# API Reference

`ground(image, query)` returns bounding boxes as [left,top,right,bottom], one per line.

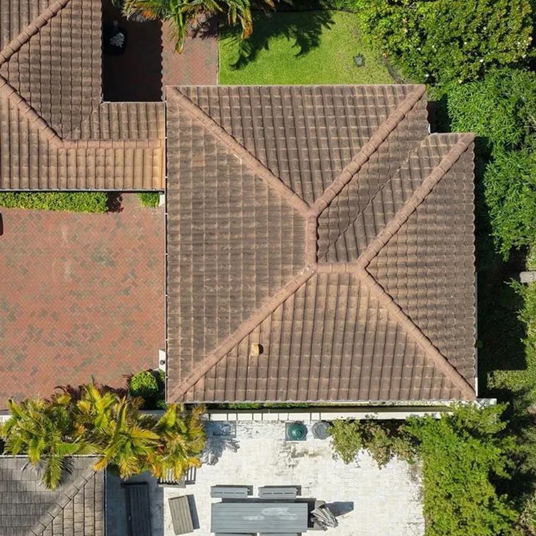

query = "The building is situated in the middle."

[161,81,480,405]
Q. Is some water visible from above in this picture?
No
